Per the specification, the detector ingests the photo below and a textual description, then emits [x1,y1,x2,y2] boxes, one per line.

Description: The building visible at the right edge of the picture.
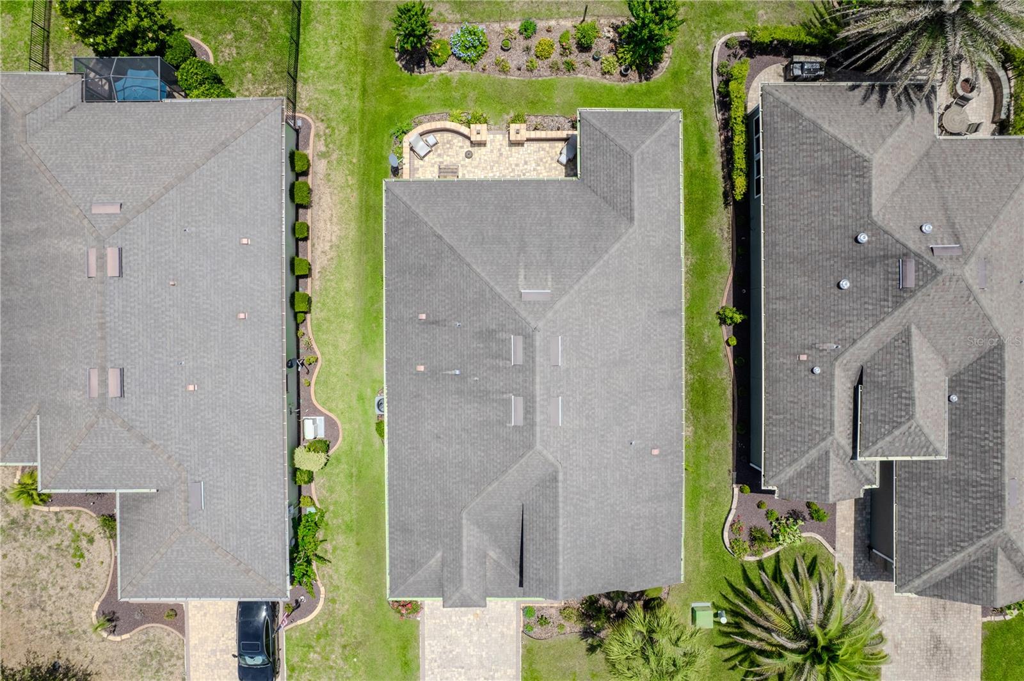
[748,83,1024,607]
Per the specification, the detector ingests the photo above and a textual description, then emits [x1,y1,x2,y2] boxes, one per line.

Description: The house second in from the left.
[384,109,684,608]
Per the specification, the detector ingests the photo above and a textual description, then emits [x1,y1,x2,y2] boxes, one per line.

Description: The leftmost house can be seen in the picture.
[0,72,299,600]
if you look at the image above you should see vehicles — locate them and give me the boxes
[235,600,284,681]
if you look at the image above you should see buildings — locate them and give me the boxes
[384,109,684,608]
[748,83,1024,607]
[0,72,299,600]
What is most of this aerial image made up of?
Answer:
buildings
